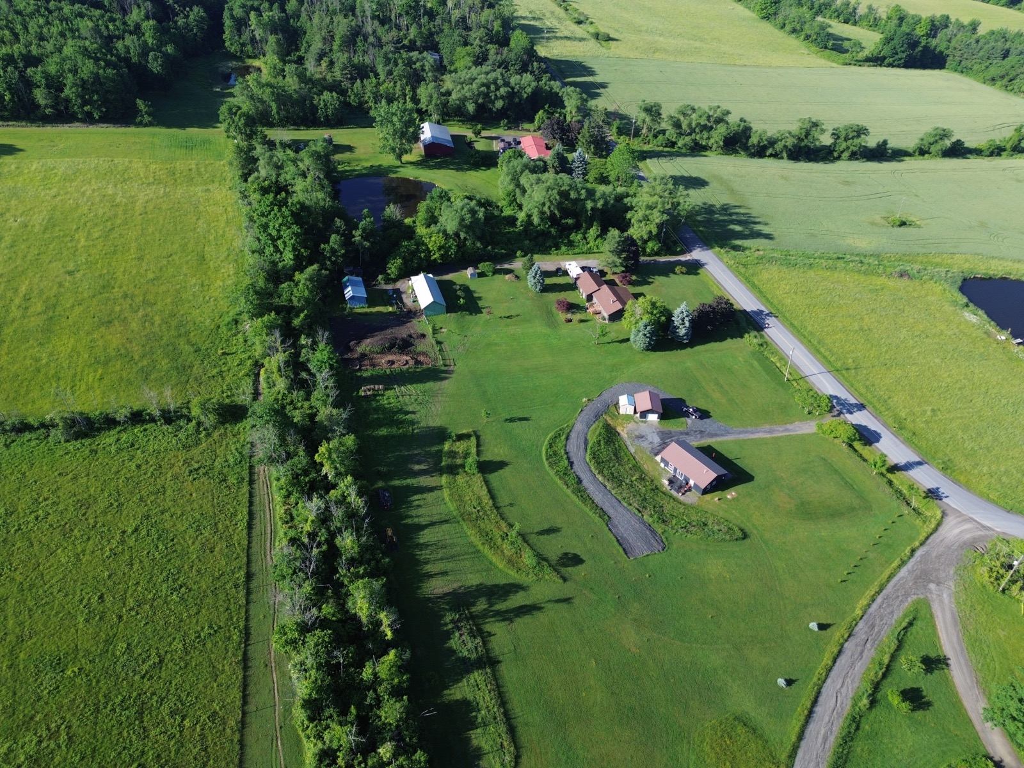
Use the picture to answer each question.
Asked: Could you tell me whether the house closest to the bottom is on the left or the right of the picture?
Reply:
right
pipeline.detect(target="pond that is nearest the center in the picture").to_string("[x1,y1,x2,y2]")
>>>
[339,176,436,228]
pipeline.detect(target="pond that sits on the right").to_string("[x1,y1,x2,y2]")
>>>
[959,277,1024,343]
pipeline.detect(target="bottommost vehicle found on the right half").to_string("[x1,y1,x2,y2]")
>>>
[681,408,706,421]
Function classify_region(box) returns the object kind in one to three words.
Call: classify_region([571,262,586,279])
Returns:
vehicle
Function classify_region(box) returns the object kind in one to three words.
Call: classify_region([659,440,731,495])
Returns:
house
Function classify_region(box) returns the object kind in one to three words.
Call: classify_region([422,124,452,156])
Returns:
barn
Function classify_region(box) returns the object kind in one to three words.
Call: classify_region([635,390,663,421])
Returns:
building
